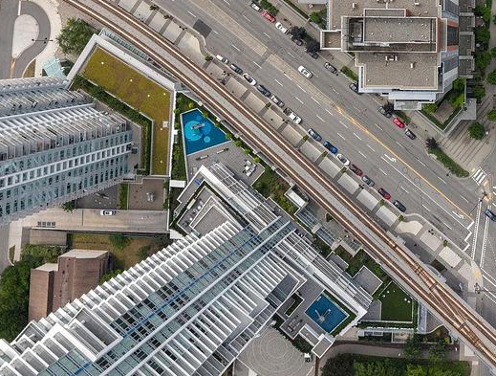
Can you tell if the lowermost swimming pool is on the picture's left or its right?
right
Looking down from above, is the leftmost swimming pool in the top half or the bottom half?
top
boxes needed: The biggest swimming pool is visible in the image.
[180,107,234,155]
